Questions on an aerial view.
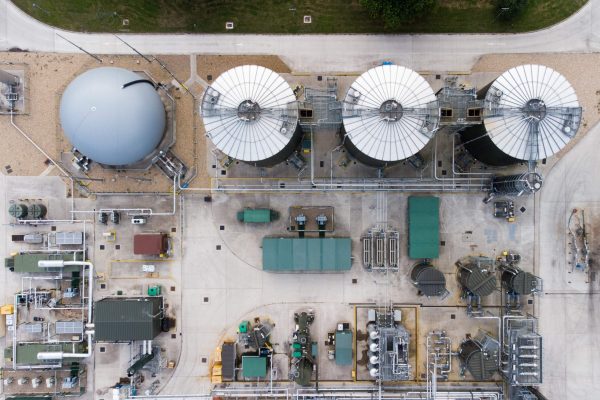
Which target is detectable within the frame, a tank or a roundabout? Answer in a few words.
tank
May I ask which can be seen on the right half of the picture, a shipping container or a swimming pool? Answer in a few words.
shipping container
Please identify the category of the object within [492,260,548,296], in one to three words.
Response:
storage tank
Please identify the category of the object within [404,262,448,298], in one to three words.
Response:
storage tank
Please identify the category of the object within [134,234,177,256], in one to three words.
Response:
house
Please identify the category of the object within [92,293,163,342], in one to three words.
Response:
building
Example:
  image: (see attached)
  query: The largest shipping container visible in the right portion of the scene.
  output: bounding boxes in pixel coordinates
[403,196,439,259]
